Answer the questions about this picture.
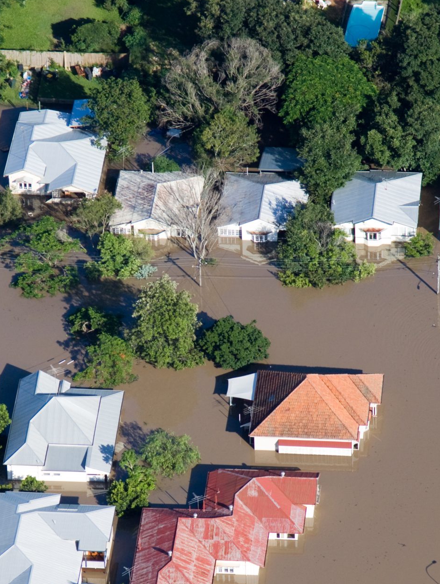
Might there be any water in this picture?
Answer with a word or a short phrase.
Yes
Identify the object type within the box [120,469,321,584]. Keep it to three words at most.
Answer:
house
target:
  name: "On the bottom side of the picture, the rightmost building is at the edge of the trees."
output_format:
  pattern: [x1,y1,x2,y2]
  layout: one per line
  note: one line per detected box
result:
[241,370,385,456]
